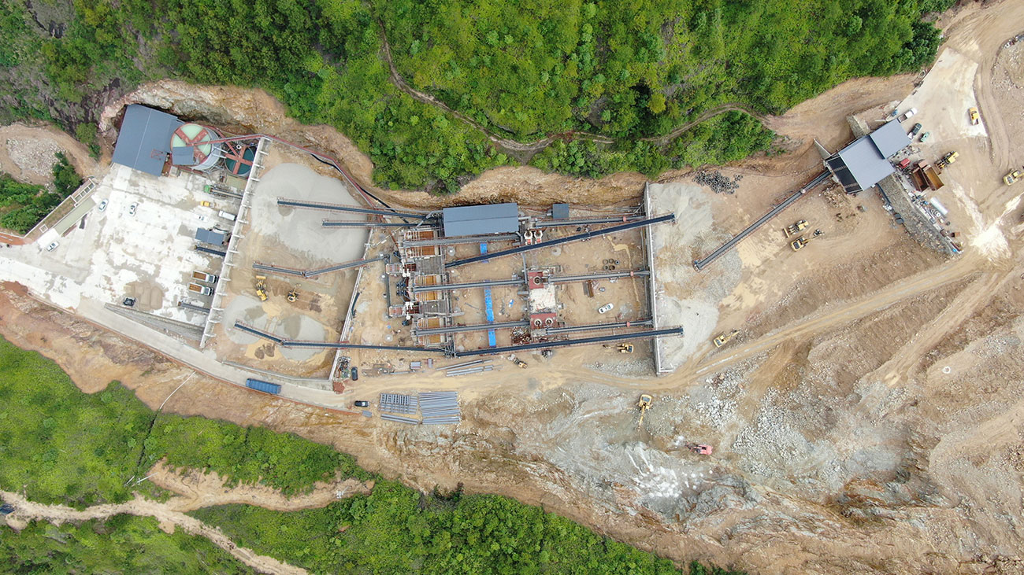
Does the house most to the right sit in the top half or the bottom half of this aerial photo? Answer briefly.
top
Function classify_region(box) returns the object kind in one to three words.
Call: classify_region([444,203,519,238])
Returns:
house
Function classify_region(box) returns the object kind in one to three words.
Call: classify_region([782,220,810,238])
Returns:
work vehicle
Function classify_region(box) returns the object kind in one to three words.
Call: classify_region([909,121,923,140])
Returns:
vehicle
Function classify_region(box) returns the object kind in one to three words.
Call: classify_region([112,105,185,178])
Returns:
building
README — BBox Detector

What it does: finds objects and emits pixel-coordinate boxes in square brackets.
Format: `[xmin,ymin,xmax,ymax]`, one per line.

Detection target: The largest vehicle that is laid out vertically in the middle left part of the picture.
[252,272,267,301]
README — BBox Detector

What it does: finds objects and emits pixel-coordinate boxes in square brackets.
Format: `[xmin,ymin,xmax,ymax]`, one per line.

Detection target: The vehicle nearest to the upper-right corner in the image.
[969,106,982,124]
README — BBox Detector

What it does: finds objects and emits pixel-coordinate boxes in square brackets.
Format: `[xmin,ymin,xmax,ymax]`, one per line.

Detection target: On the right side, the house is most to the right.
[822,118,911,194]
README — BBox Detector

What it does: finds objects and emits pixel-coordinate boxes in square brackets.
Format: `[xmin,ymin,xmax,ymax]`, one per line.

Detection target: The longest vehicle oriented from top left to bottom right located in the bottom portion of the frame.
[507,354,526,369]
